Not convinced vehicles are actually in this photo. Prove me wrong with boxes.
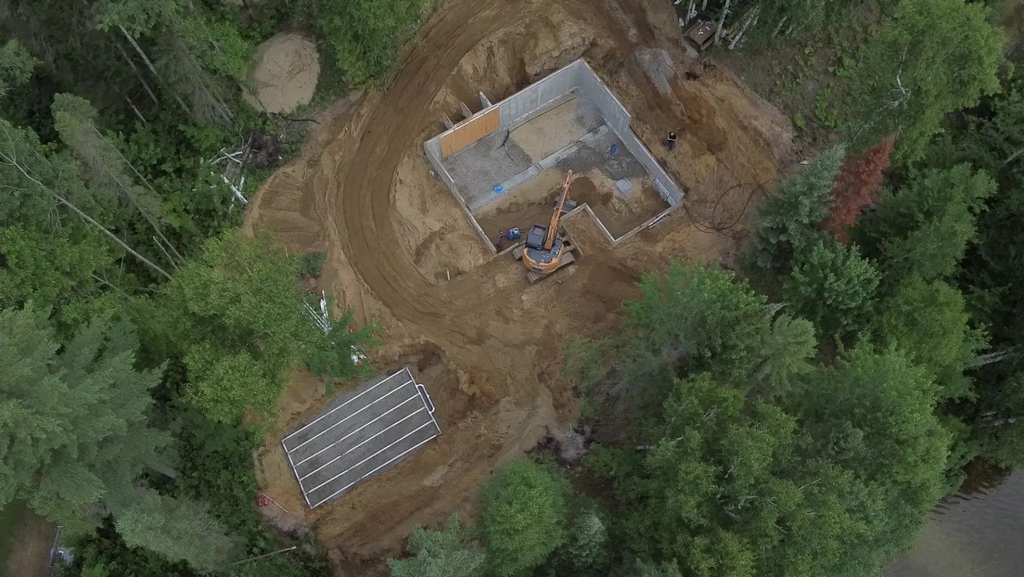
[508,164,586,283]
